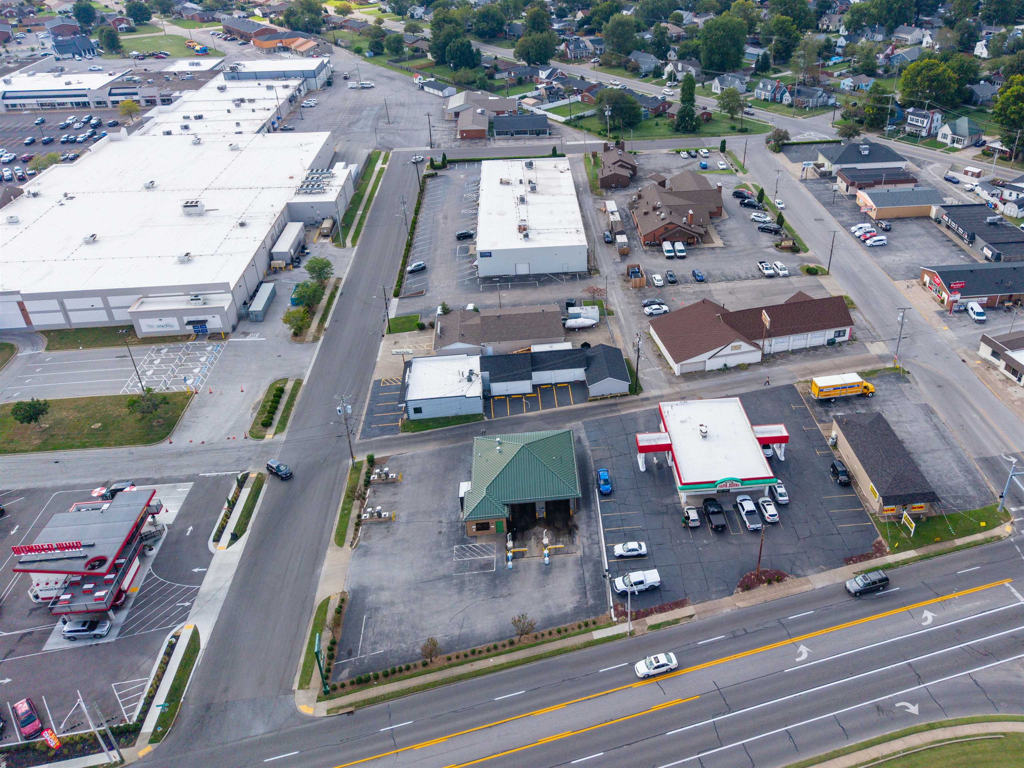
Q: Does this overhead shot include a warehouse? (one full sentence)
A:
Yes, you can see a warehouse in this photo.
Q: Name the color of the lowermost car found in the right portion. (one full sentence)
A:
From above, the lowermost car found in the right portion appears white.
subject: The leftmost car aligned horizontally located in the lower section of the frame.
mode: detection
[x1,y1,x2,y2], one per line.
[63,619,110,641]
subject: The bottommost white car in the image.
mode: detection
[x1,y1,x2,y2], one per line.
[632,651,680,679]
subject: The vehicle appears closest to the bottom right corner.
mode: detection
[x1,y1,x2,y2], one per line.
[842,566,893,596]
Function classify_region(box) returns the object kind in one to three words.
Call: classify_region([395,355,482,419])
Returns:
building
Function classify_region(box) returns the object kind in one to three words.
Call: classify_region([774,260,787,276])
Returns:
vehicle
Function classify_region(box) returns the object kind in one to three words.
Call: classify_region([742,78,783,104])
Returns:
house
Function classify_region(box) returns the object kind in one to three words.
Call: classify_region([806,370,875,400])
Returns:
truck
